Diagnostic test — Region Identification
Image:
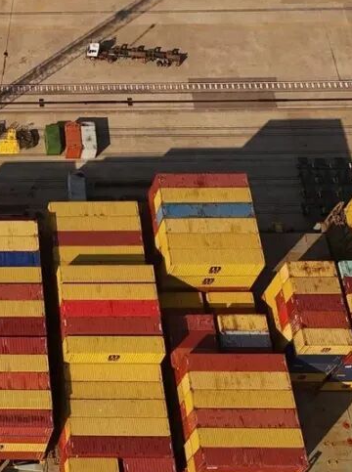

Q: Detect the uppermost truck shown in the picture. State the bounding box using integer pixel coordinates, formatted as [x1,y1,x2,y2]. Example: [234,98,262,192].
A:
[85,40,174,69]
